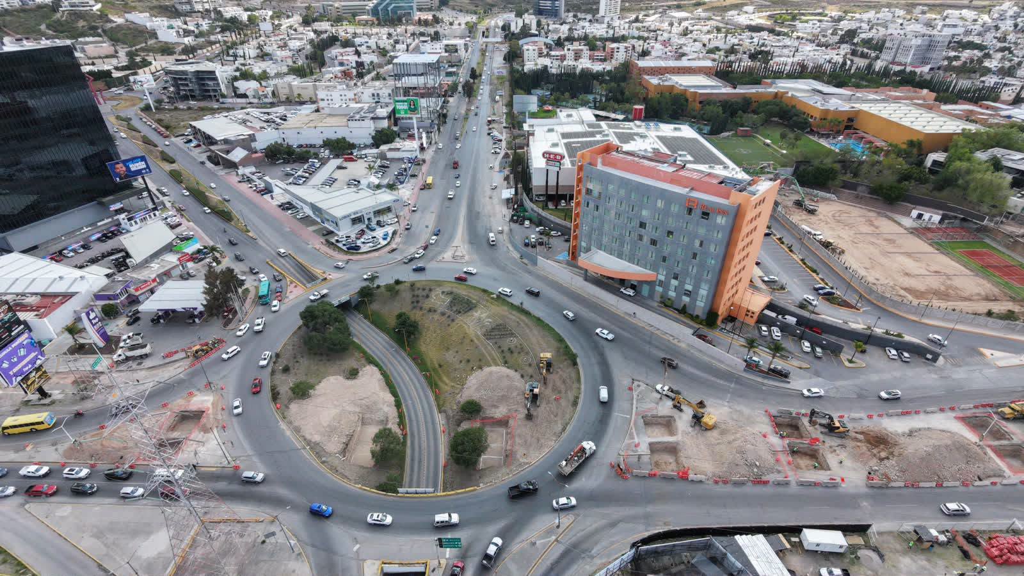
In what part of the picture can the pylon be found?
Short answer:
bottom left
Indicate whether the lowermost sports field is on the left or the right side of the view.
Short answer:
right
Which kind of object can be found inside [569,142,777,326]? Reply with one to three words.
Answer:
building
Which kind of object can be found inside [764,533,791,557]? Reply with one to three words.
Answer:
shed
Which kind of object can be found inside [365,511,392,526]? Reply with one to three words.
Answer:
car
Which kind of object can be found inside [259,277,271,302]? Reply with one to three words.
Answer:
vehicle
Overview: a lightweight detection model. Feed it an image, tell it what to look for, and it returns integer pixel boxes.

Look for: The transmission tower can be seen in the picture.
[72,364,258,576]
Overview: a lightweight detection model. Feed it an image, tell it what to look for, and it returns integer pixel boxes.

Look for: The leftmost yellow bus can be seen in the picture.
[0,414,57,435]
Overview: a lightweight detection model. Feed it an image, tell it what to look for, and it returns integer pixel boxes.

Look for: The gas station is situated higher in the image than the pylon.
[139,280,207,324]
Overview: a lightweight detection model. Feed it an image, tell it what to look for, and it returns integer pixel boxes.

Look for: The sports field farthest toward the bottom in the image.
[779,192,1024,324]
